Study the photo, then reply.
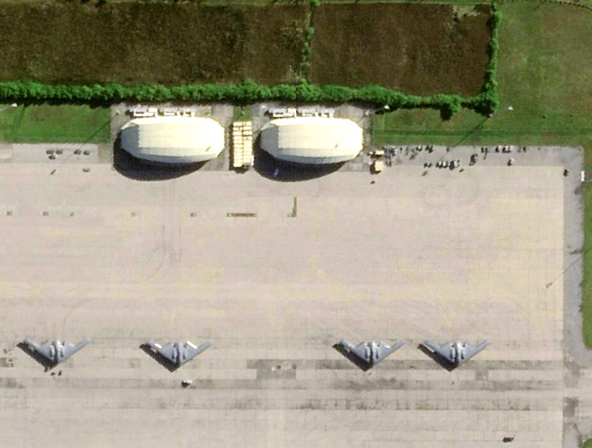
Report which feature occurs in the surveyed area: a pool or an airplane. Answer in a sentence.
Visible in the photo is an airplane.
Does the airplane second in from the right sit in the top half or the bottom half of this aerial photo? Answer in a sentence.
The airplane second in from the right sits in the bottom half of the picture.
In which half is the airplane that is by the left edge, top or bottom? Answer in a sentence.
Seen from above, the airplane that is by the left edge lies in the bottom half of the view.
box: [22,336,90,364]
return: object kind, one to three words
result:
airplane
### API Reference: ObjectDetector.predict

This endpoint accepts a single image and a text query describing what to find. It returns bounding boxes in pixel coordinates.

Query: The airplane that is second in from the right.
[340,337,408,364]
